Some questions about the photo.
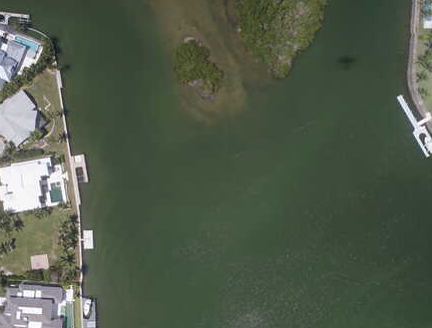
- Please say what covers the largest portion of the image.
water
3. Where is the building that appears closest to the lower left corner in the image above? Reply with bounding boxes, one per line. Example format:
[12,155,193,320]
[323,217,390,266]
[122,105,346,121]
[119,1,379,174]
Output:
[0,283,65,328]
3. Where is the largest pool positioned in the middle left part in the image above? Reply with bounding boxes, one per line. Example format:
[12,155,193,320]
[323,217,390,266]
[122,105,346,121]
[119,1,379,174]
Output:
[50,188,64,203]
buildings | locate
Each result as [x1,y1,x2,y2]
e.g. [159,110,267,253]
[0,158,54,213]
[0,89,47,154]
[0,283,65,328]
[0,30,33,85]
